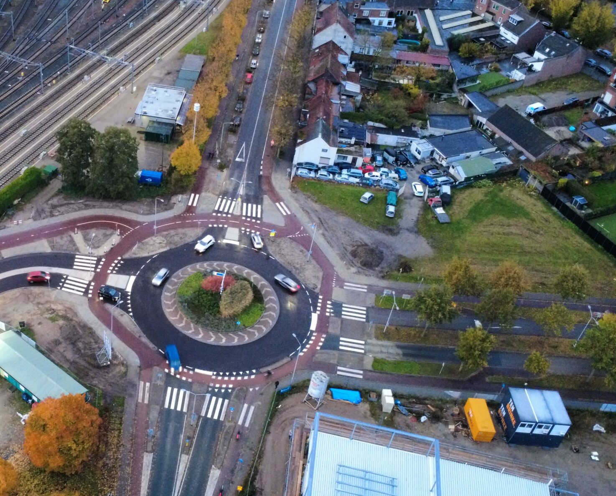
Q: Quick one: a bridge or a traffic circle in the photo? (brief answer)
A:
traffic circle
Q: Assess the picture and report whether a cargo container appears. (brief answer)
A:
Yes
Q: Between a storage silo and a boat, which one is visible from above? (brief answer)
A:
storage silo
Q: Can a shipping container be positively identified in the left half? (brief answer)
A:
No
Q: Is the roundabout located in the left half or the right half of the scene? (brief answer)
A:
left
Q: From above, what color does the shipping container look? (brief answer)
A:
orange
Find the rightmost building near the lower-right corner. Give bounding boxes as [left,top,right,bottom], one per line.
[495,388,571,449]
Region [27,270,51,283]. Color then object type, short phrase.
red vehicle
